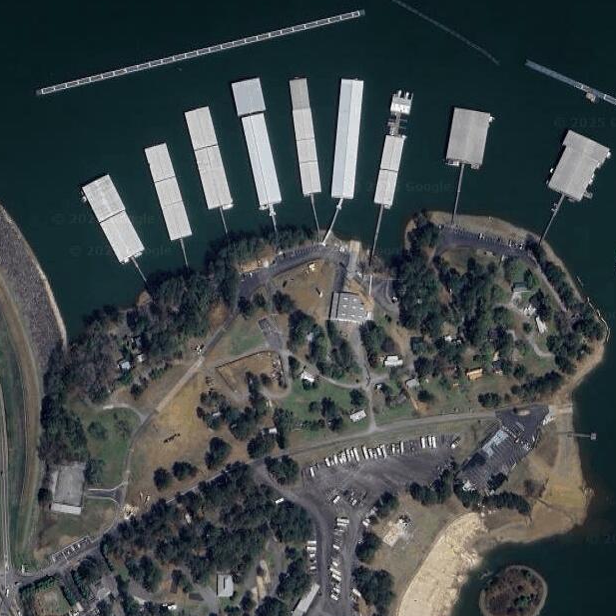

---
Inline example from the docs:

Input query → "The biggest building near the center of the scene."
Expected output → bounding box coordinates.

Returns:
[330,292,365,323]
